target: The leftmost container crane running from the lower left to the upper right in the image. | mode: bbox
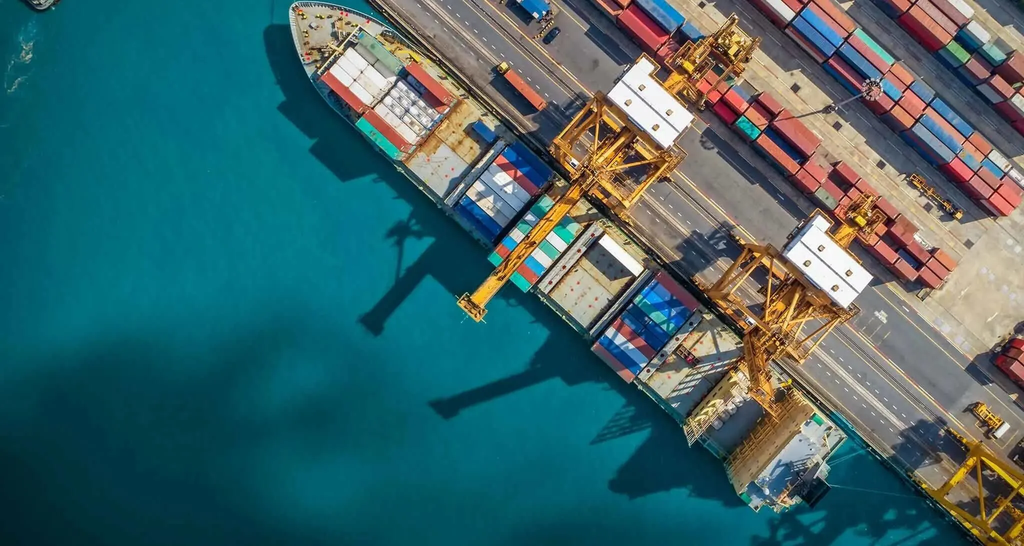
[448,34,719,333]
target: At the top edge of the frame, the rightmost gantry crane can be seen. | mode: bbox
[680,11,763,116]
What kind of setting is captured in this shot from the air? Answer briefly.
port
